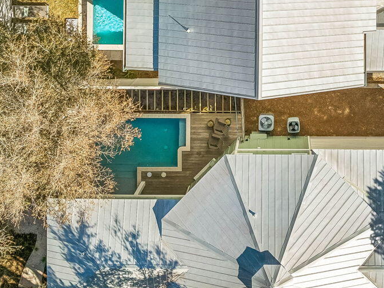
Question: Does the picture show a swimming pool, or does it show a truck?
swimming pool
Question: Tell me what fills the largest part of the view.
buildings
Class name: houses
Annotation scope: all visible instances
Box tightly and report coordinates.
[122,0,384,97]
[44,123,384,288]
